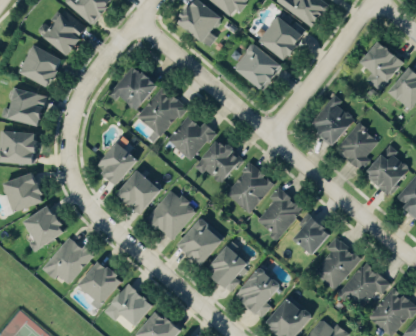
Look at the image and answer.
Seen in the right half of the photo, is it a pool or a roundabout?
pool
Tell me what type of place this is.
residential area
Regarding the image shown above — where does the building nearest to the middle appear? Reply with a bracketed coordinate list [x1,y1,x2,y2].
[197,139,238,182]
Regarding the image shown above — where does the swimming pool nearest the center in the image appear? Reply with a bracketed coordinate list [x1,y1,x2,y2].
[133,120,154,138]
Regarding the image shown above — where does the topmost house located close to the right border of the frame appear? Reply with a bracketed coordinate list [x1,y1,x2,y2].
[359,43,400,87]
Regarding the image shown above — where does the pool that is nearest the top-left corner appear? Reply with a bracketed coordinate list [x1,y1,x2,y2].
[102,124,123,150]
